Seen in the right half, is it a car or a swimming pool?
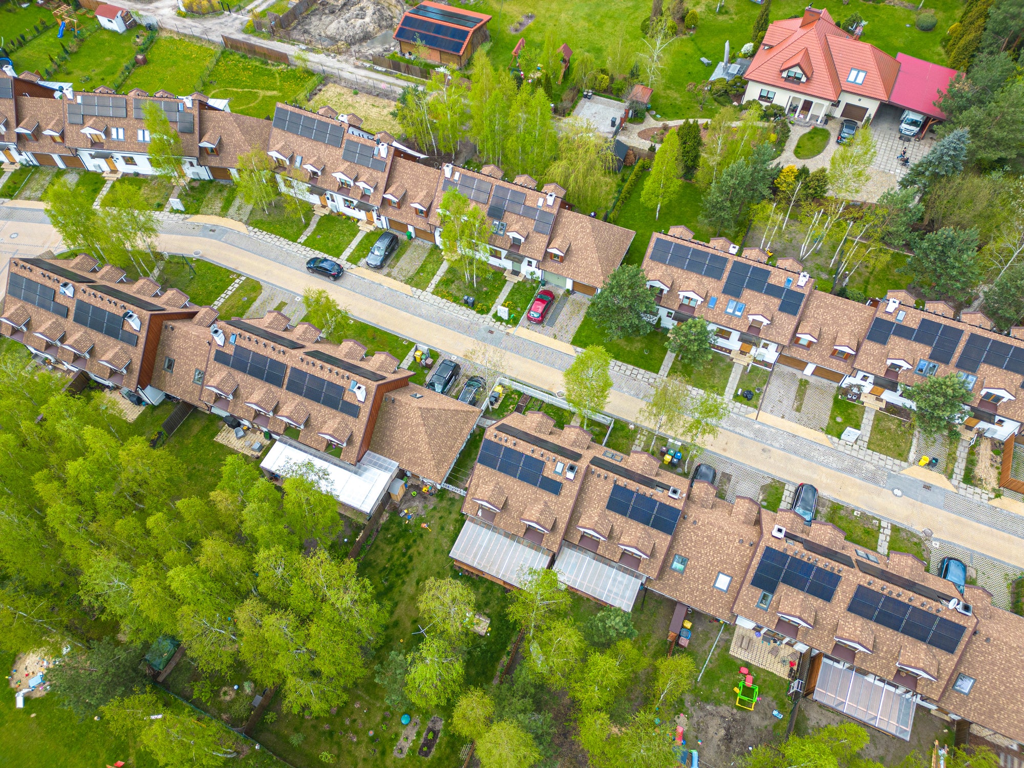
car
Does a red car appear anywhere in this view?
Yes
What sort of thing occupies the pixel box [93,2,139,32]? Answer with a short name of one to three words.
shed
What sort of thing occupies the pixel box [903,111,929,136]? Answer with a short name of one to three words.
truck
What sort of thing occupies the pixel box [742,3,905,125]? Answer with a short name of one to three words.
house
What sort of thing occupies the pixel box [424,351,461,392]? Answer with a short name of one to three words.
car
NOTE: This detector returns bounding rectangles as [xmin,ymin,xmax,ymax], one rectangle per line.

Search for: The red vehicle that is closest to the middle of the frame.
[525,290,554,322]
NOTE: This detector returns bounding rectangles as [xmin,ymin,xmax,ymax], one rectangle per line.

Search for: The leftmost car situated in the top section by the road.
[306,260,344,283]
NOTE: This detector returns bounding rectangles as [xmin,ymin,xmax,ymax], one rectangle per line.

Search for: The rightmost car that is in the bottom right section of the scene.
[939,548,972,593]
